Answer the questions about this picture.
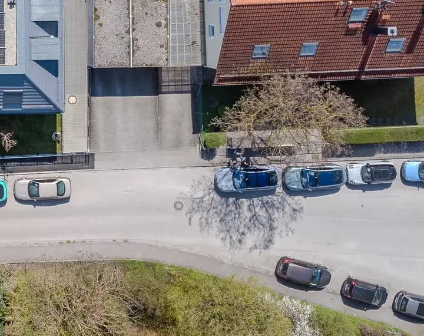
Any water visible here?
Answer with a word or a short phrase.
No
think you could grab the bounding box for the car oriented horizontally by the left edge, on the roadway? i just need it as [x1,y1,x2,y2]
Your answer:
[13,176,71,202]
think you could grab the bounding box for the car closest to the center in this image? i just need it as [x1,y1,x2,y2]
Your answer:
[213,166,277,195]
